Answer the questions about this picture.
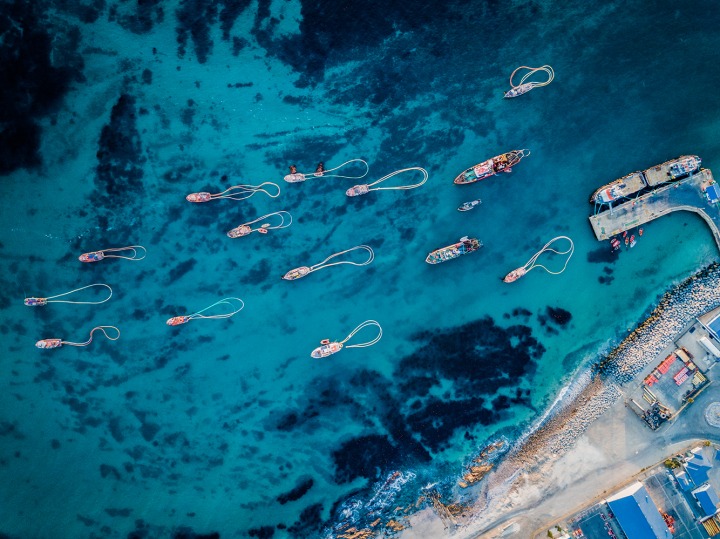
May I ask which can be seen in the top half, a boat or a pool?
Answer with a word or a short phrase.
boat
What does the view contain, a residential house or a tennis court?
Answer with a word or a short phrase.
residential house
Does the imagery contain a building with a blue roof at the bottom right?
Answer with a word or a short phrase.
Yes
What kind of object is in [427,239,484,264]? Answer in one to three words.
boat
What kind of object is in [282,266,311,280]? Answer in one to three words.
boat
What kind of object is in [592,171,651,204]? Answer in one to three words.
ship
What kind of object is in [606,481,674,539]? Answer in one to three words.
building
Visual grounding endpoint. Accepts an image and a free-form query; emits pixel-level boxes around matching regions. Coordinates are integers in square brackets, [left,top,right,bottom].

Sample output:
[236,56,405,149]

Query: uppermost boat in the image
[505,82,536,98]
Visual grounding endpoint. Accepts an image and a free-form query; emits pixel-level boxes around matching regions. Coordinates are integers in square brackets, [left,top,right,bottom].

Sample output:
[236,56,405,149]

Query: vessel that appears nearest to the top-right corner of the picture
[646,155,707,186]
